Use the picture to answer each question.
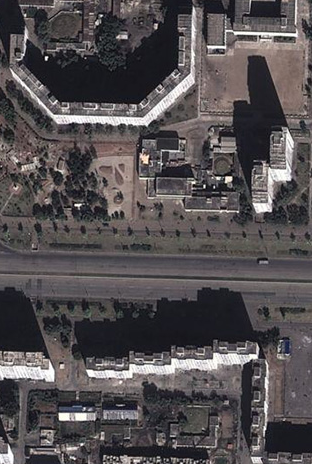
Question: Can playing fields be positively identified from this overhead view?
Yes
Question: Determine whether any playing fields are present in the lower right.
No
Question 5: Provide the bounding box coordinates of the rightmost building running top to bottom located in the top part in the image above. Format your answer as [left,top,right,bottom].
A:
[270,129,291,182]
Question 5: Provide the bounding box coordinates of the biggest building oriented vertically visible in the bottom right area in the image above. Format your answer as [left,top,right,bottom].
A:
[251,359,268,462]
